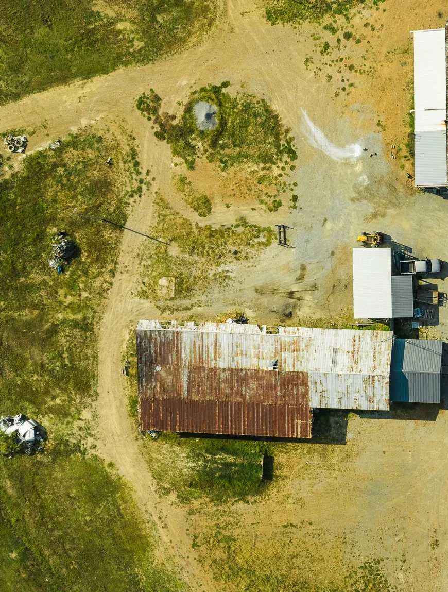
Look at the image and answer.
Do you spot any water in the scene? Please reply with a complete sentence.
No, the scene doesn't show any water.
